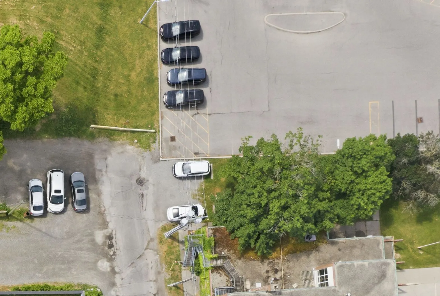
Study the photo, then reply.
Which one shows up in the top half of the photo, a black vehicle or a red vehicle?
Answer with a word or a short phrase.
black vehicle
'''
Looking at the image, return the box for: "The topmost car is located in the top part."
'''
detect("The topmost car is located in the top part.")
[157,19,201,42]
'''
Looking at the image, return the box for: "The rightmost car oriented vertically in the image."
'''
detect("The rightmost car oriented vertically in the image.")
[68,172,88,214]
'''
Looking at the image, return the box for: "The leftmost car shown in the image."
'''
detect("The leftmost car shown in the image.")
[27,178,45,219]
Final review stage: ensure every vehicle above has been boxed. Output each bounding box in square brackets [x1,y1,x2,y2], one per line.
[168,158,213,180]
[164,203,206,222]
[45,169,66,214]
[157,19,201,42]
[163,65,207,88]
[27,178,45,219]
[68,172,88,214]
[160,87,205,111]
[158,46,200,67]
